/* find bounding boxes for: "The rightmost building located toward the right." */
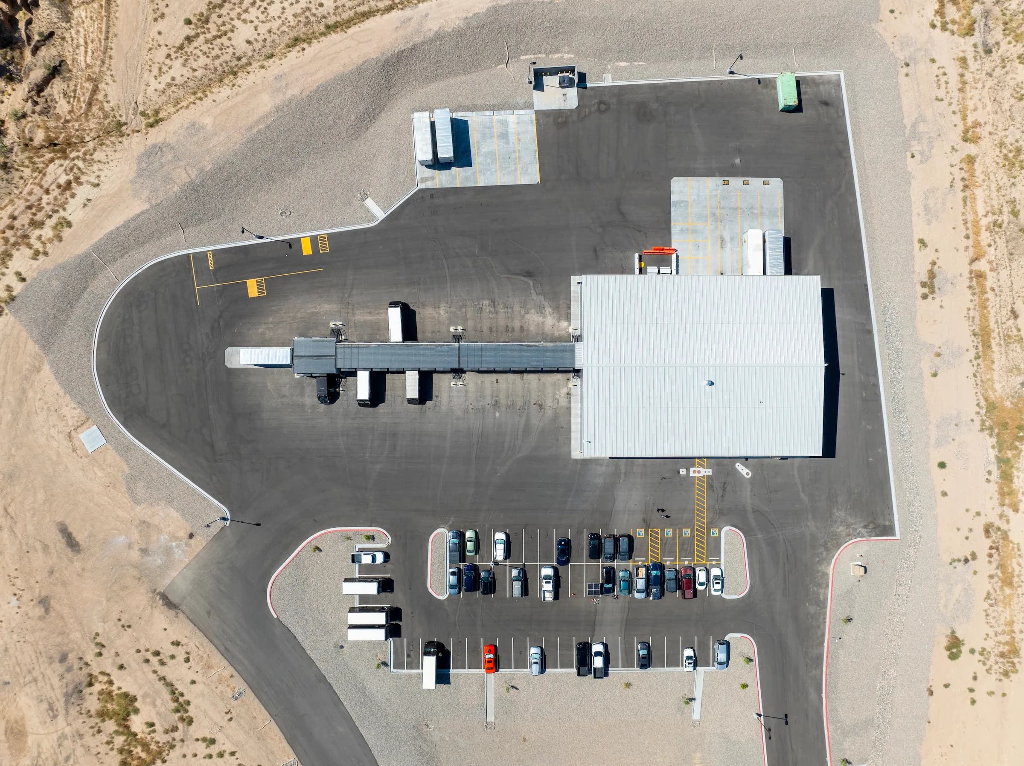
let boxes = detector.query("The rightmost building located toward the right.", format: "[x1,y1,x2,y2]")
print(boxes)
[577,274,832,457]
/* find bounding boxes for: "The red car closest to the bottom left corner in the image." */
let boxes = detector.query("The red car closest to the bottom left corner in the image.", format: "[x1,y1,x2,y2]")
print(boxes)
[483,644,496,673]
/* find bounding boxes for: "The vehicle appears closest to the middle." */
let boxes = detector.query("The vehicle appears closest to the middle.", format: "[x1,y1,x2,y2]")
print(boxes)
[405,372,422,406]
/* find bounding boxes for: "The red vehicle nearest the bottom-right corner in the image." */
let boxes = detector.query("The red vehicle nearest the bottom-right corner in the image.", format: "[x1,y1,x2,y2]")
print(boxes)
[680,566,694,600]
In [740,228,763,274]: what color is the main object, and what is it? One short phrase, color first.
white trailer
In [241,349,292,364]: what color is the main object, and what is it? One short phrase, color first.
white trailer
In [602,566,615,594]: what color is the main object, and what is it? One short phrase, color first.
black vehicle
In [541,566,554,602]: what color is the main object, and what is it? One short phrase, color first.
white vehicle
